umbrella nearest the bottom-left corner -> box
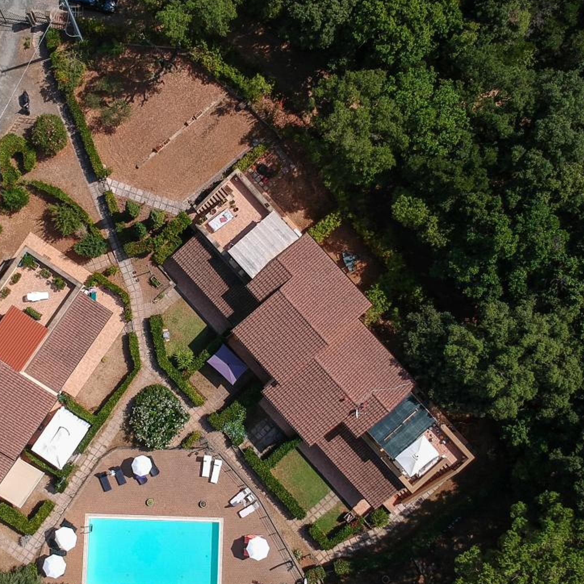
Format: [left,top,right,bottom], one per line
[41,552,65,577]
